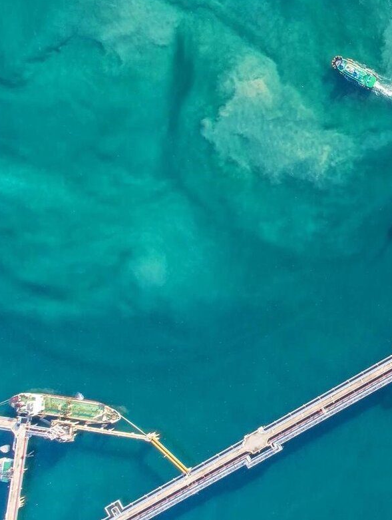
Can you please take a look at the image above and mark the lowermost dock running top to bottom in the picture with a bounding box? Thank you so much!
[5,424,35,520]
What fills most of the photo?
water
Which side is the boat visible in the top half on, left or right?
right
